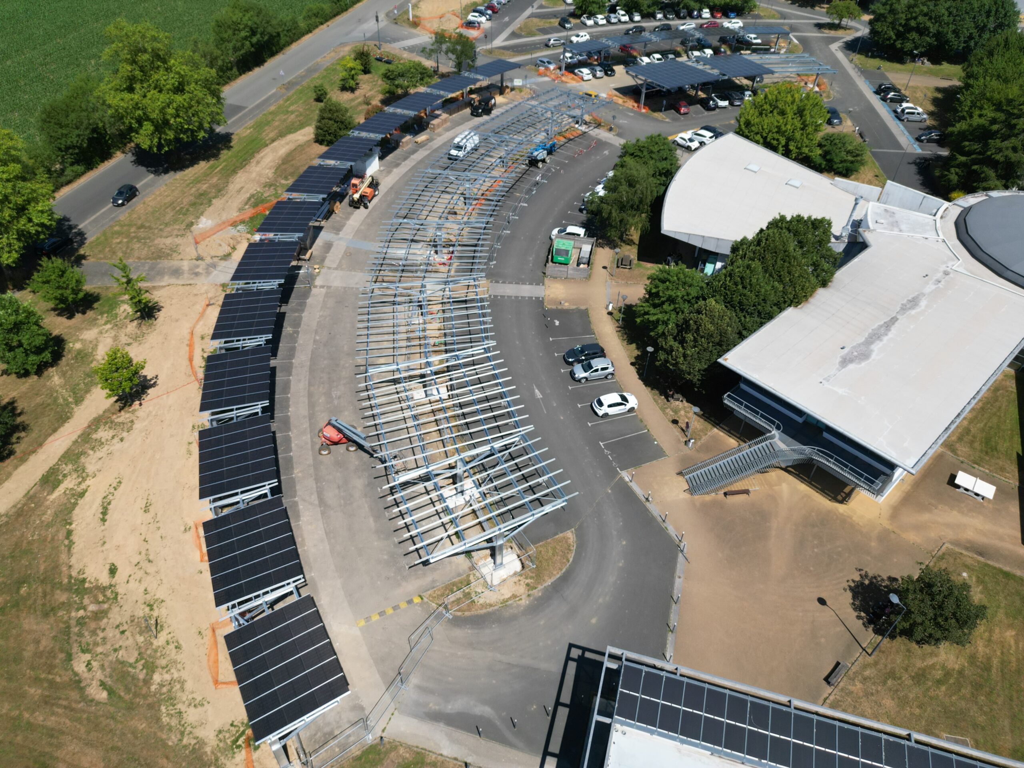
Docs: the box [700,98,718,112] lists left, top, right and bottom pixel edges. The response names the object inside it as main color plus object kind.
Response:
black car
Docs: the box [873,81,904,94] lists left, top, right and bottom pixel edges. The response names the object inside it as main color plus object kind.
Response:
black vehicle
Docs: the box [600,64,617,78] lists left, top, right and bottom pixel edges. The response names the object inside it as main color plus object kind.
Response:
black car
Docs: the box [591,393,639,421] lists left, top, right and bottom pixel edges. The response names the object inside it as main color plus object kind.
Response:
white car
